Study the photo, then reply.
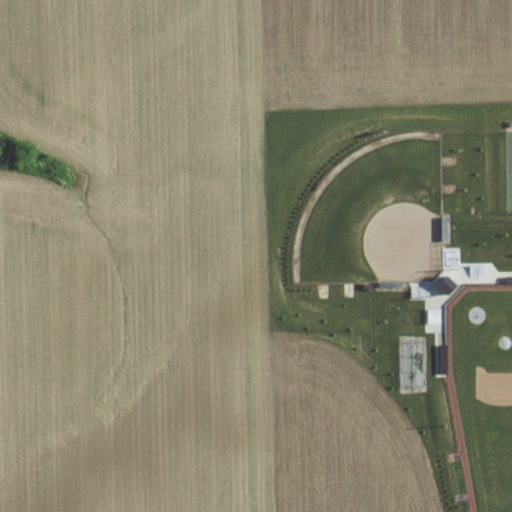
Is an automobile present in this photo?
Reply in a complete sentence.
No, the photo shows no automobile.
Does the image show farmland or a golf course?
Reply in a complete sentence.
The area seen from above is farmland.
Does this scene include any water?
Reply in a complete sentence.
No, the picture contains no water.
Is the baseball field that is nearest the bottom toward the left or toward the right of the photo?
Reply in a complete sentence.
The baseball field that is nearest the bottom appears in the right half of the scene.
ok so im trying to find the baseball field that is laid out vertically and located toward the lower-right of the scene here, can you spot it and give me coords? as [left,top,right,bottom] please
[445,284,512,512]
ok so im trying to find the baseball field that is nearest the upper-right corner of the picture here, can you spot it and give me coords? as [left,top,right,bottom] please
[293,132,442,284]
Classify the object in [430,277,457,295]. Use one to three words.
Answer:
building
